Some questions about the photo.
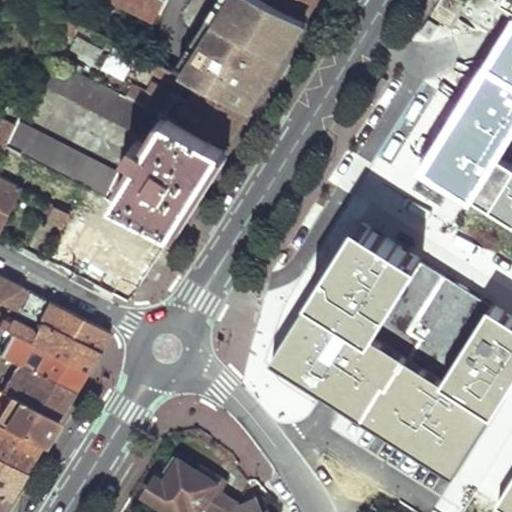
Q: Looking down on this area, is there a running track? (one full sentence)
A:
No, no running track can be seen from above.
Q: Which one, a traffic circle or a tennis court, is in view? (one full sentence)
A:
Visible in the photo is a traffic circle.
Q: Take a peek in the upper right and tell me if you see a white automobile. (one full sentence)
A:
Yes, a white automobile appears in the upper right.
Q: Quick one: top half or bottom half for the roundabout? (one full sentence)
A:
It is in the bottom half that the roundabout appears.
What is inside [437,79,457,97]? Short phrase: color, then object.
white car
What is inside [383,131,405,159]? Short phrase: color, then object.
white vehicle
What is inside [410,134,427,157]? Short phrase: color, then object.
white car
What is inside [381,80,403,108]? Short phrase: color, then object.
white vehicle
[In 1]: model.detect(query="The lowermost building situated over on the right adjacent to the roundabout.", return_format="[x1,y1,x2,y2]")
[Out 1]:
[268,226,512,480]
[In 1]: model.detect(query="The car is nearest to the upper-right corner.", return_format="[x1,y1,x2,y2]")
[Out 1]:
[450,60,471,75]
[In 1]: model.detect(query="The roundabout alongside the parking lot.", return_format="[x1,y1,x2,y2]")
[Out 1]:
[110,291,236,422]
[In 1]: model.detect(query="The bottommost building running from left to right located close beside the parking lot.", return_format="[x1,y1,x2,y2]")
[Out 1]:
[132,452,262,512]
